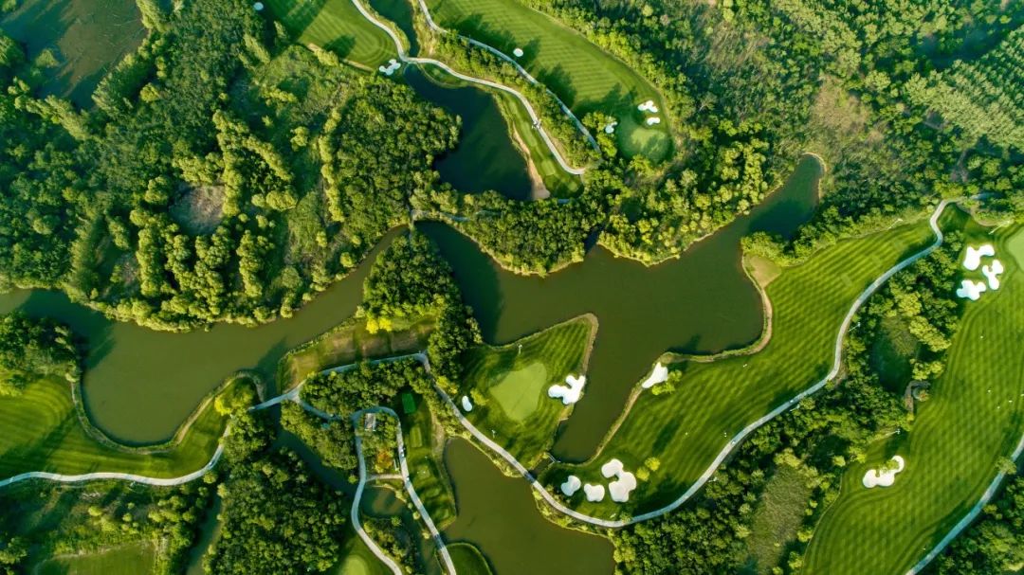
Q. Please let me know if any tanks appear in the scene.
No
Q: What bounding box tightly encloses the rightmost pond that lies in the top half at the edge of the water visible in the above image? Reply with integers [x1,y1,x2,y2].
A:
[368,0,530,201]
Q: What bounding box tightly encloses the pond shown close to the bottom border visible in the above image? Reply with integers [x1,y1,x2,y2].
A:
[444,439,616,575]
